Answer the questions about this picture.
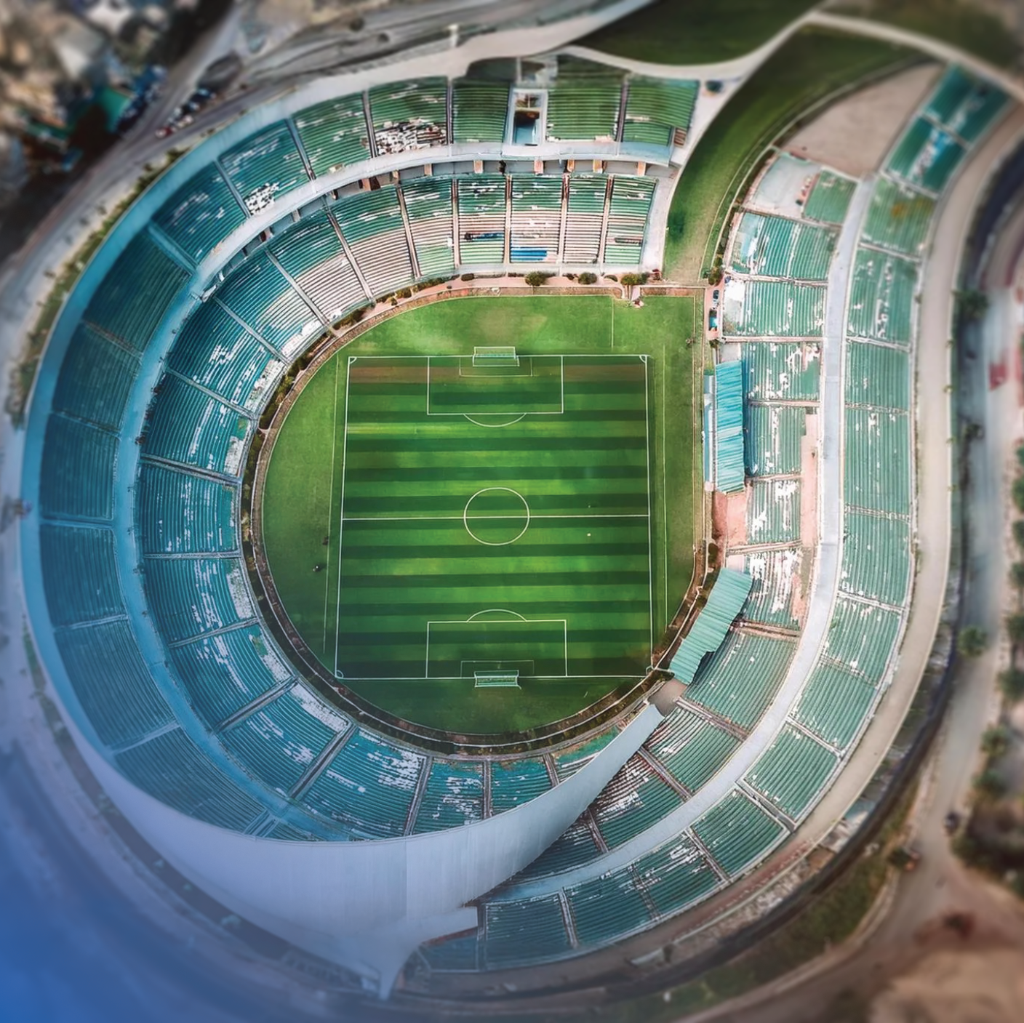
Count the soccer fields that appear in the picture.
1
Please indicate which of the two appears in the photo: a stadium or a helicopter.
stadium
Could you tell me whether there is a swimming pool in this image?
No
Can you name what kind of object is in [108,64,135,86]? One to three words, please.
house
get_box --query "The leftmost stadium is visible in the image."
[18,56,702,843]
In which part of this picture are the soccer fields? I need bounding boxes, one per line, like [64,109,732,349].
[323,295,666,679]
